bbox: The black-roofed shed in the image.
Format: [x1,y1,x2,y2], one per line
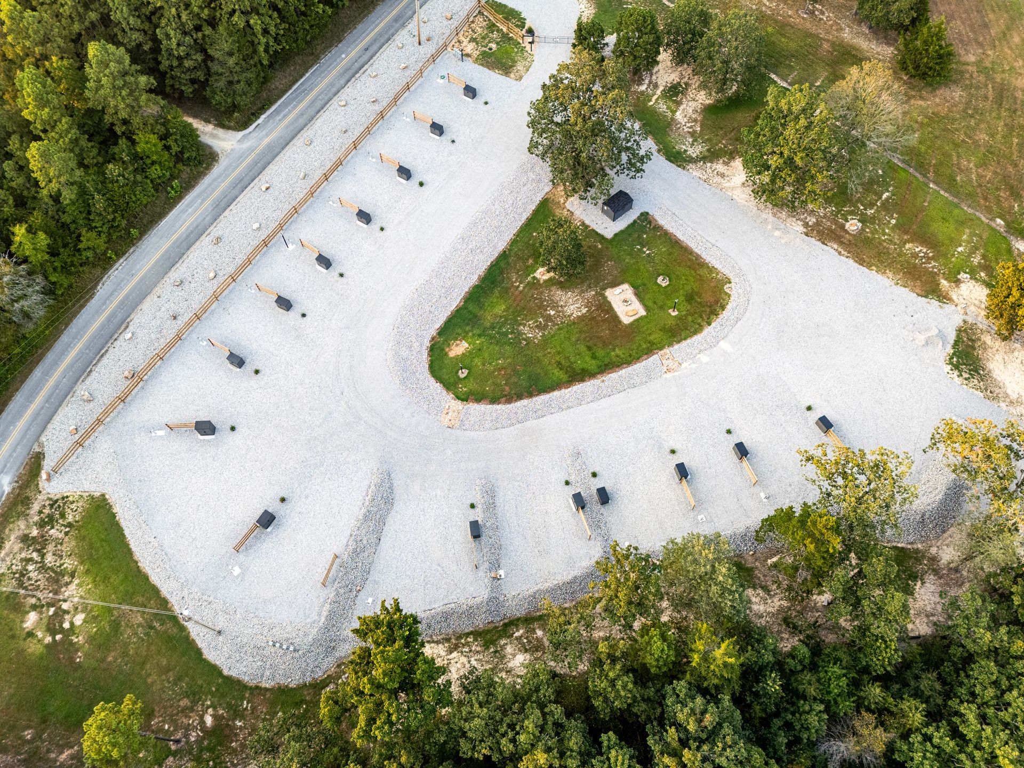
[603,190,634,221]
